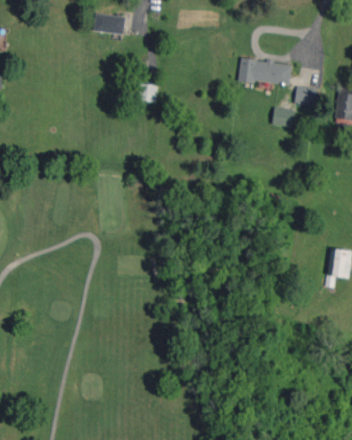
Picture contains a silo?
No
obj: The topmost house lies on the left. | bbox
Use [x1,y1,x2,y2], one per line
[93,12,125,33]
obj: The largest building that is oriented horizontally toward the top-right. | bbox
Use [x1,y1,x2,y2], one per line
[238,56,292,84]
